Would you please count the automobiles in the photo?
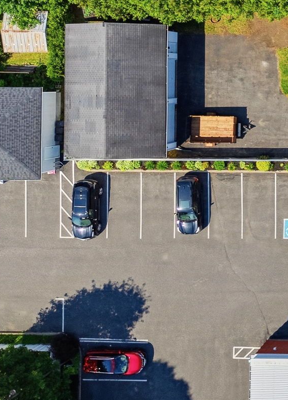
3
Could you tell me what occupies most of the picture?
paved ground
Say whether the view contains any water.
No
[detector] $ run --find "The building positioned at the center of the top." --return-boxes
[65,22,182,159]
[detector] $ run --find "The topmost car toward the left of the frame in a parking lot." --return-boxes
[68,179,102,239]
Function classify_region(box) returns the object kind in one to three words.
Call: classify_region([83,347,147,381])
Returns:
car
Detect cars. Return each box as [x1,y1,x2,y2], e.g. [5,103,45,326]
[172,177,204,234]
[68,179,102,239]
[83,347,147,381]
